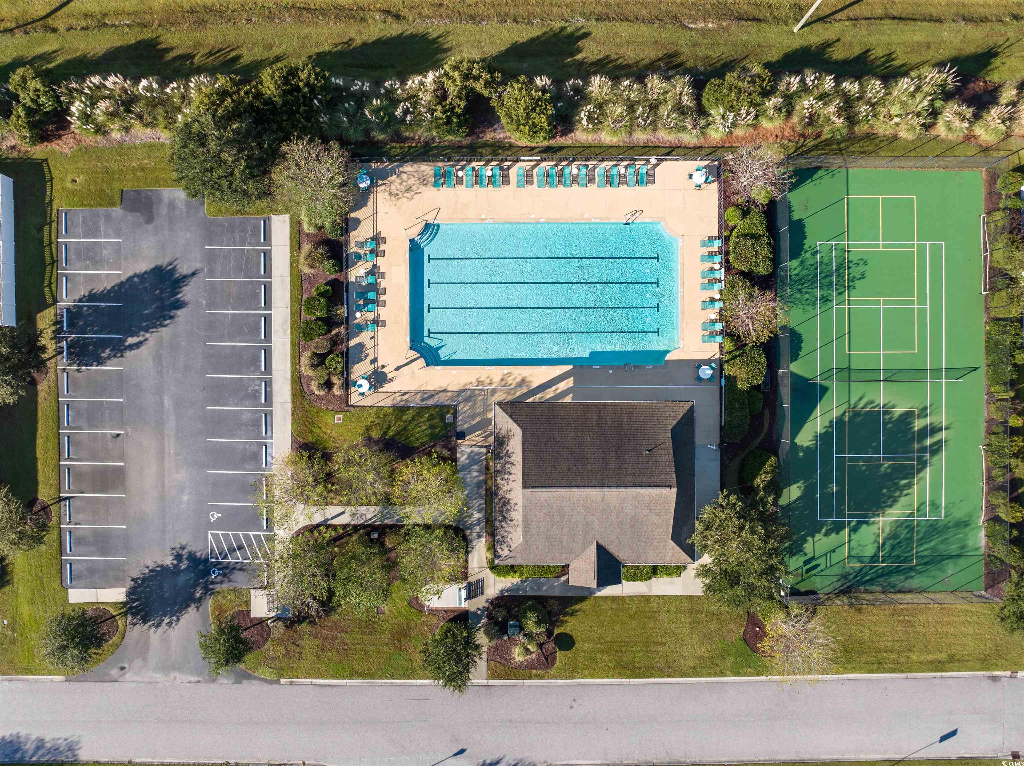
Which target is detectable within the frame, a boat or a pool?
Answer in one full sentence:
It is a pool that can be seen here.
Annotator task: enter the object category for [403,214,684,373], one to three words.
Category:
swimming pool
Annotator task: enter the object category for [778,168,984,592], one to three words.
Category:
tennis court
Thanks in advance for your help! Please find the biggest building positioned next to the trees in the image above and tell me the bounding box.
[494,401,696,590]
